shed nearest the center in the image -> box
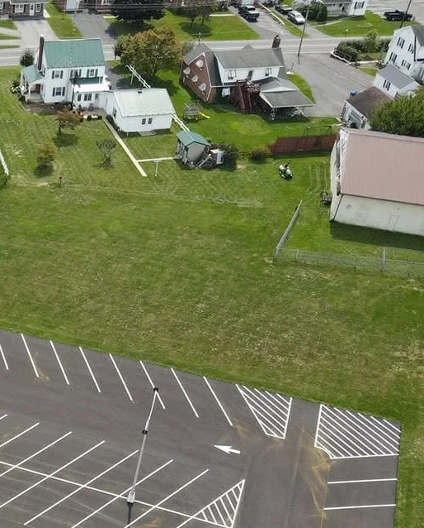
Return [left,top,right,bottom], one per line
[173,128,211,164]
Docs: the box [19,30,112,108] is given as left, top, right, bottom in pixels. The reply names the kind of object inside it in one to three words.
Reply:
house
